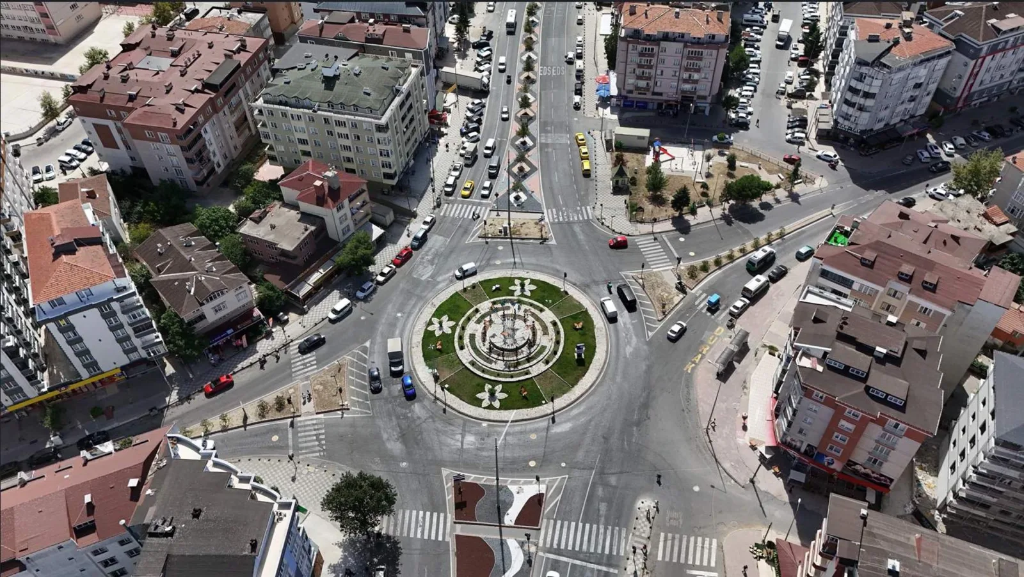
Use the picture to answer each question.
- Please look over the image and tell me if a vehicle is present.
Yes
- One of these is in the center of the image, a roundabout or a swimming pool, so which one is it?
roundabout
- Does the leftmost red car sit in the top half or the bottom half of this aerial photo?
bottom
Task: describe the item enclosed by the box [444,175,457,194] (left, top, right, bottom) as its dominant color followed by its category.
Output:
white vehicle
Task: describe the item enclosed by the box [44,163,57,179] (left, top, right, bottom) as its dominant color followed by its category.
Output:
white vehicle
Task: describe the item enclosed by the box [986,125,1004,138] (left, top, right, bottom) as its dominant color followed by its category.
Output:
black vehicle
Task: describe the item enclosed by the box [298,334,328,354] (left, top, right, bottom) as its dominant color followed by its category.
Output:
black car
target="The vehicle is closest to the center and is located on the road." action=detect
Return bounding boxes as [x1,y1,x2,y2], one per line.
[454,260,479,280]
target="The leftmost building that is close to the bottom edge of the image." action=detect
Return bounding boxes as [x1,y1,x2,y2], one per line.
[0,425,174,577]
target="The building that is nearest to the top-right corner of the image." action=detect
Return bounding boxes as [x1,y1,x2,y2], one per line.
[923,0,1024,112]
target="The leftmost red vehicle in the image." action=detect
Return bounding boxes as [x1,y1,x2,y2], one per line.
[203,375,235,396]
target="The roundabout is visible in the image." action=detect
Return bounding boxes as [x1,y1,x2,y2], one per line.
[412,270,606,419]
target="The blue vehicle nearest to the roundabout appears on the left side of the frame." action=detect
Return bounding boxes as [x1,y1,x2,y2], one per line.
[401,374,416,400]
